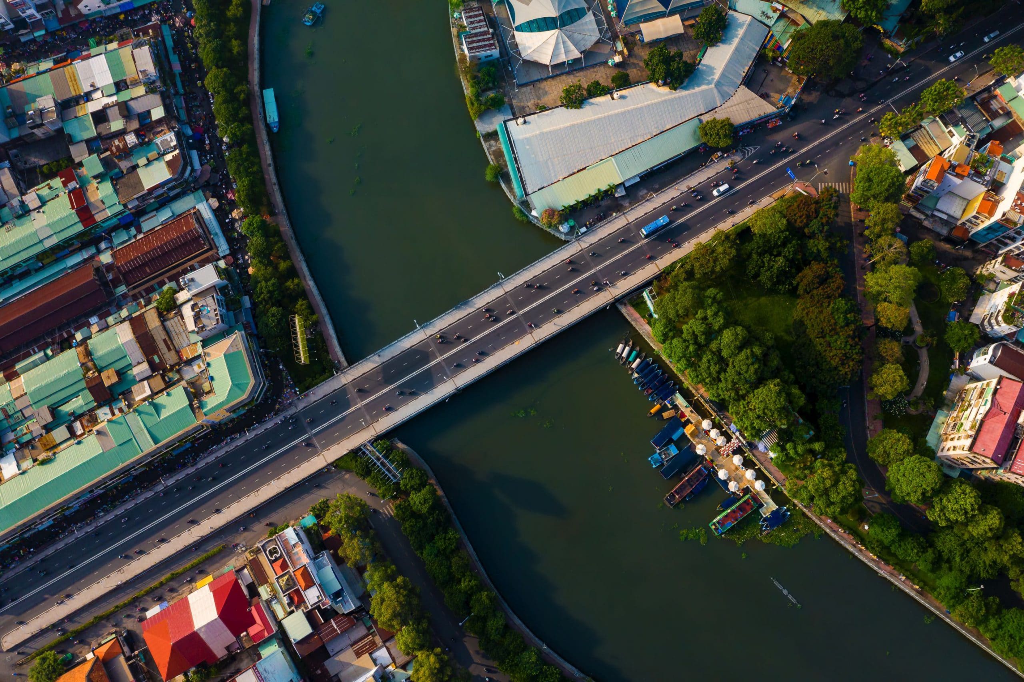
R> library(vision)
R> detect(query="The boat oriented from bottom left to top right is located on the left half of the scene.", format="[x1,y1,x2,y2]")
[301,0,324,25]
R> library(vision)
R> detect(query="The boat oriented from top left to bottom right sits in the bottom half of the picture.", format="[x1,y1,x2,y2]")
[711,469,732,494]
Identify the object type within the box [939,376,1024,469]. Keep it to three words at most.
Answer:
building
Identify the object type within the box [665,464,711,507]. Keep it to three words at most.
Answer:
boat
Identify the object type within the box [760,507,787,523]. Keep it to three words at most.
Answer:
boat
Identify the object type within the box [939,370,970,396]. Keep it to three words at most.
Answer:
house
